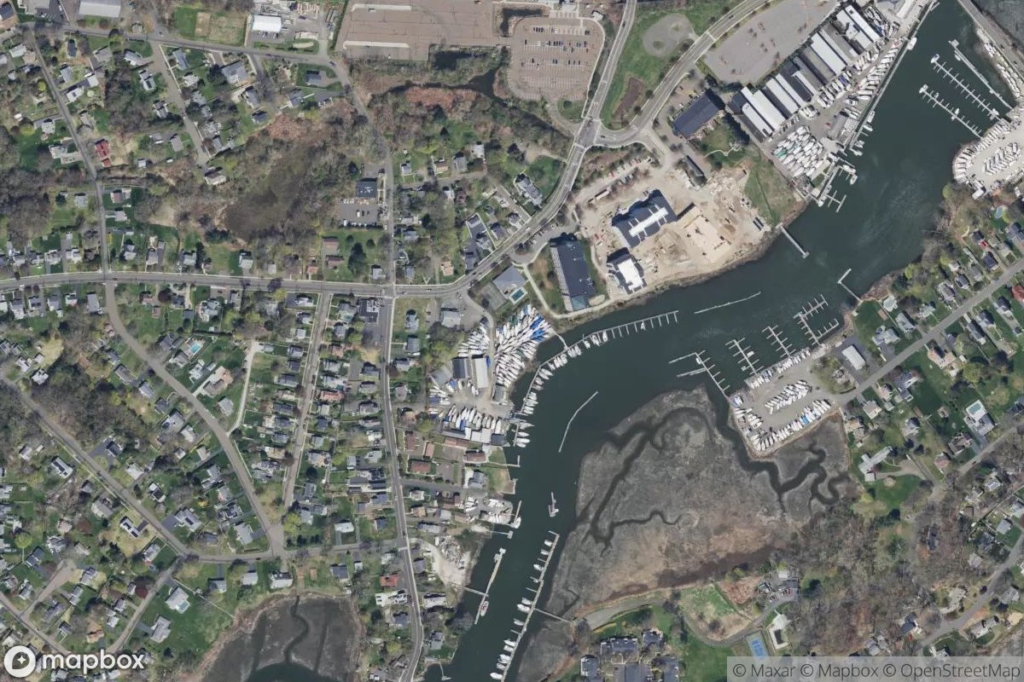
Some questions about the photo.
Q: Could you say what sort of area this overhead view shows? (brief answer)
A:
residential area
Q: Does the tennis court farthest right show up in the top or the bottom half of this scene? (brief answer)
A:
bottom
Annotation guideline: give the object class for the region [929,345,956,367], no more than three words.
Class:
house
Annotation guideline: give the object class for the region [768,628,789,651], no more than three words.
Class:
swimming pool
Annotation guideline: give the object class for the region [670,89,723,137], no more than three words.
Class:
building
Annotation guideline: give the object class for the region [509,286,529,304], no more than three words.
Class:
swimming pool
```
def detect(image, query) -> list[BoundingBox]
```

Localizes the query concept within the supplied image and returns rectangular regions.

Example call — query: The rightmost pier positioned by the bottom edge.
[502,530,575,682]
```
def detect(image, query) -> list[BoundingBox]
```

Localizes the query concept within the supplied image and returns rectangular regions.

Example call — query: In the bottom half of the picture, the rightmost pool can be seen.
[965,399,988,422]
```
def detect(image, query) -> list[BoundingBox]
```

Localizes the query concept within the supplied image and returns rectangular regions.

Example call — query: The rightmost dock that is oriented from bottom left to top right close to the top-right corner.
[852,0,945,147]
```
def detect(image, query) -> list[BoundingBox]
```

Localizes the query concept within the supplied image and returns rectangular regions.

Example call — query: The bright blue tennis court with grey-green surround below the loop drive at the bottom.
[746,632,770,668]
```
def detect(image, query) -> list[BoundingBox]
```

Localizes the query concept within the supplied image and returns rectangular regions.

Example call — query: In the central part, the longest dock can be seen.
[520,310,679,412]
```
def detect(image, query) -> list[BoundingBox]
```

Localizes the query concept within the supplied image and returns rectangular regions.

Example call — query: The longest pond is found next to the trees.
[366,52,572,143]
